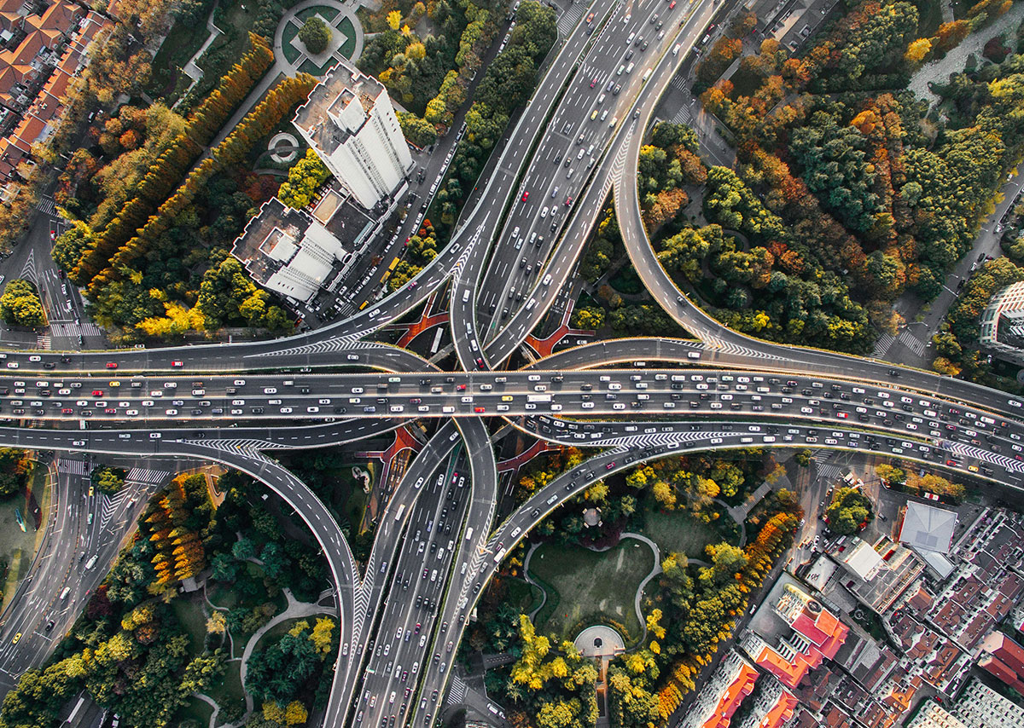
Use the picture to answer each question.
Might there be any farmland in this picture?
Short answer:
No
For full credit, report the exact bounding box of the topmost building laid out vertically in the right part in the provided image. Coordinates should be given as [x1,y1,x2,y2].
[983,281,1024,376]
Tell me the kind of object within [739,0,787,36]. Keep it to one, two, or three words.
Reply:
building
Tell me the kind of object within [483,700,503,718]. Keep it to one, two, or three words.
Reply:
vehicle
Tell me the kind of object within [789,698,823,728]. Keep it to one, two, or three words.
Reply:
house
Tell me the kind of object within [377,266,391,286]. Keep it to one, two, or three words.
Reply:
vehicle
